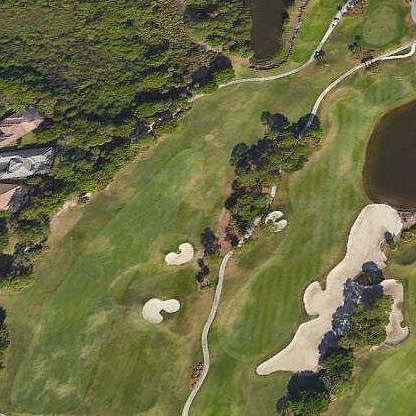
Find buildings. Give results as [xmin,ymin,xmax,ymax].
[0,107,44,152]
[0,148,54,184]
[0,186,19,215]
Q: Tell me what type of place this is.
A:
golf course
